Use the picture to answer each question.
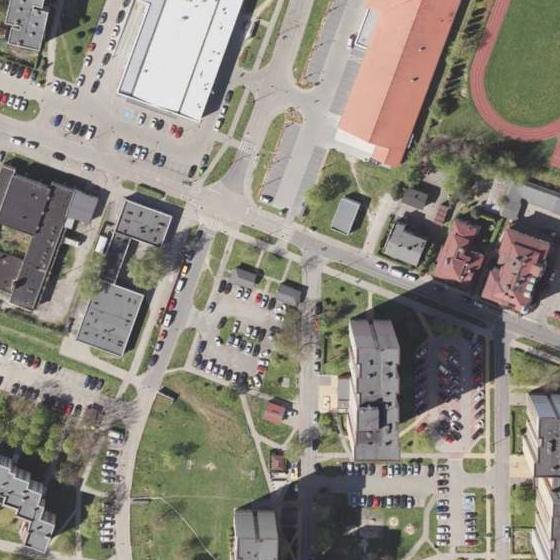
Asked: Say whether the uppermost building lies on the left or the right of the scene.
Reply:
left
